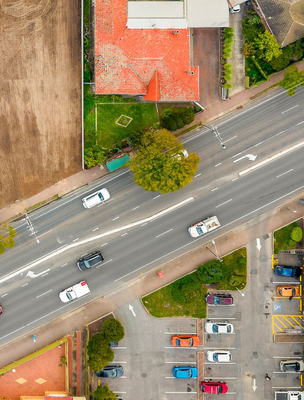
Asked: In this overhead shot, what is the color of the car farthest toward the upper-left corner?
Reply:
white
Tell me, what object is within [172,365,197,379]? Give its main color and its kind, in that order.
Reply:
blue car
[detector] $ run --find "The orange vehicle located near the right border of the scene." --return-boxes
[275,284,300,297]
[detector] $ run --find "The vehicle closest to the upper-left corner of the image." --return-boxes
[82,188,109,209]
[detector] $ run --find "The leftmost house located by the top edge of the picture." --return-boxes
[94,0,229,102]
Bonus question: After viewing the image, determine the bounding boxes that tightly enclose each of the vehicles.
[200,380,228,394]
[107,339,123,351]
[172,365,197,379]
[275,284,300,297]
[205,292,233,306]
[207,349,231,362]
[274,264,302,278]
[60,280,92,302]
[206,320,232,333]
[82,188,109,209]
[171,334,198,348]
[76,251,105,270]
[275,389,304,400]
[280,359,304,372]
[96,365,123,378]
